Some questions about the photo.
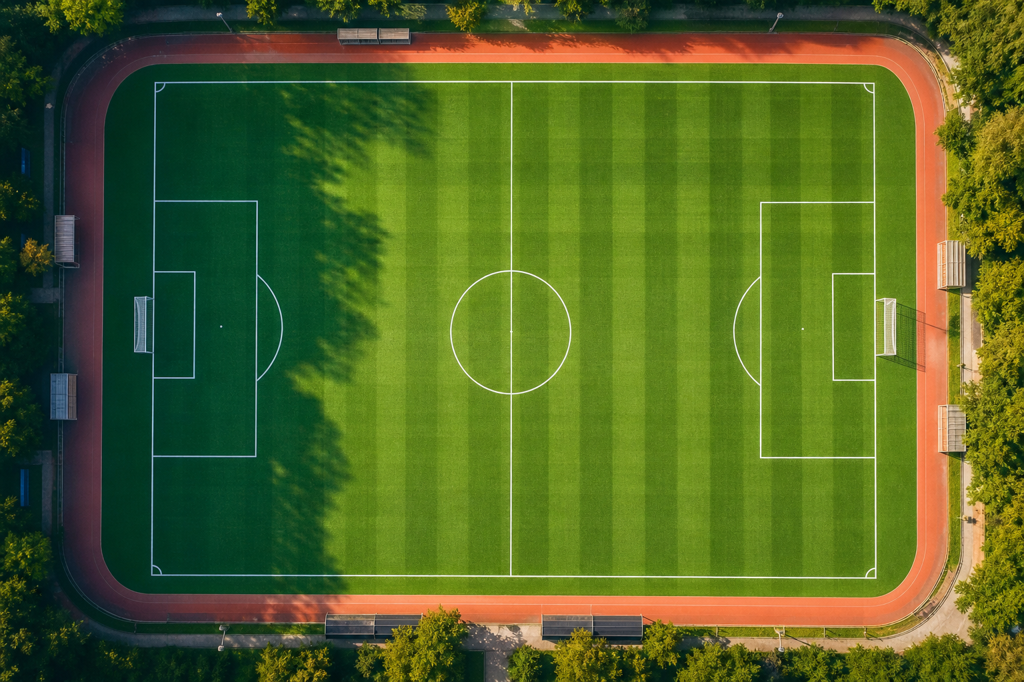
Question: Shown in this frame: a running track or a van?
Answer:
running track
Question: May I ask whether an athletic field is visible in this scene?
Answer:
Yes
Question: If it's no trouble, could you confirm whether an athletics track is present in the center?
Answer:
No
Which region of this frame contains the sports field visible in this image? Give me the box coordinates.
[101,63,917,598]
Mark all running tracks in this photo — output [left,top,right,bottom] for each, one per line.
[63,34,946,626]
